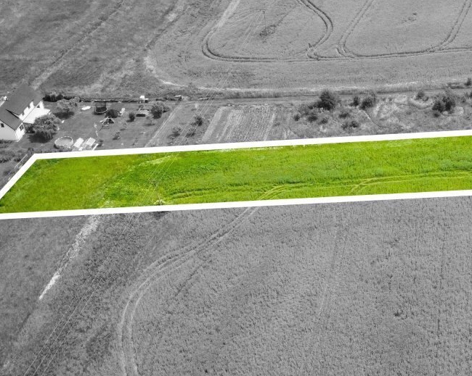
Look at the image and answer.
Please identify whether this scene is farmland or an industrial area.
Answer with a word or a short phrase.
farmland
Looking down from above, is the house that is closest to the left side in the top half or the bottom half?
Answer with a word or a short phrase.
top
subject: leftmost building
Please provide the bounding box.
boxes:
[0,84,51,142]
